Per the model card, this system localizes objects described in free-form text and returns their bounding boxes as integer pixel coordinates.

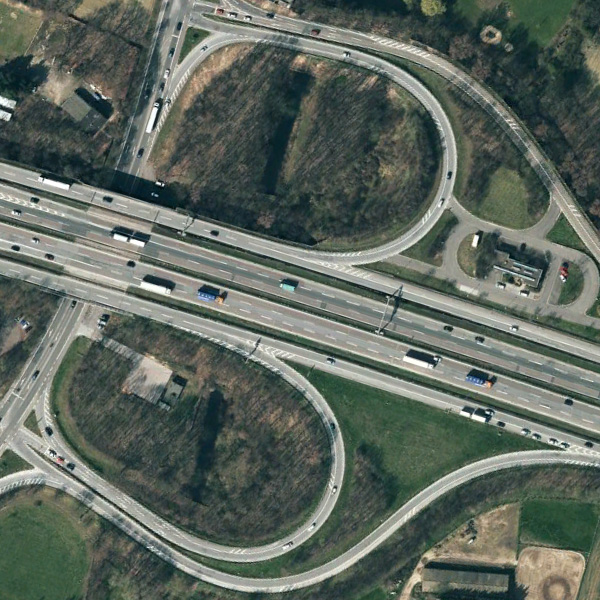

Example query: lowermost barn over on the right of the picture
[421,565,509,598]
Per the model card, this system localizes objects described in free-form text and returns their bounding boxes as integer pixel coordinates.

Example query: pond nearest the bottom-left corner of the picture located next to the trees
[192,393,227,504]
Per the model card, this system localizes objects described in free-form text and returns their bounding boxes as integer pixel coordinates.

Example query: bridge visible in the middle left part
[53,184,162,313]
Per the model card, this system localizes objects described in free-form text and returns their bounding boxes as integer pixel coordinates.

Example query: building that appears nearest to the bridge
[62,91,108,138]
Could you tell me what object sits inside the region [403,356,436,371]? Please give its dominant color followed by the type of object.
white vehicle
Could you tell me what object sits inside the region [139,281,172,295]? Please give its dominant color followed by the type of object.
white vehicle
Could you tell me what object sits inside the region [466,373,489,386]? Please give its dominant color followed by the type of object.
blue vehicle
